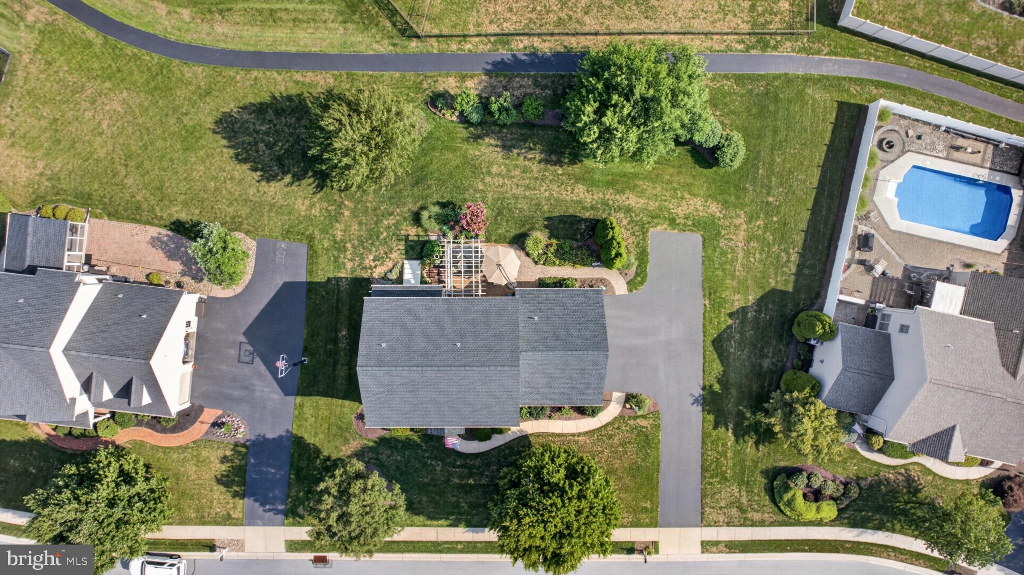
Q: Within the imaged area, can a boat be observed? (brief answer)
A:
No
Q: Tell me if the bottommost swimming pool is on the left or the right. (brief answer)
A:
right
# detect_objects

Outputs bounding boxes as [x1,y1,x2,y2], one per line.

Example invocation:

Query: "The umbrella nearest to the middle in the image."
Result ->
[480,245,521,290]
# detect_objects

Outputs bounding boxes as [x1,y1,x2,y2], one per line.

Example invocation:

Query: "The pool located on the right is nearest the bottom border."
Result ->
[886,164,1014,241]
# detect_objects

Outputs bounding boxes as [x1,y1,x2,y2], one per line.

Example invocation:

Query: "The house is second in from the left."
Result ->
[357,285,609,436]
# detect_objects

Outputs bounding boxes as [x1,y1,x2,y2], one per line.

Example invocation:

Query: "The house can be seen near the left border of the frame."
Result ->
[0,213,201,430]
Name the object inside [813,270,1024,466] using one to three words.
house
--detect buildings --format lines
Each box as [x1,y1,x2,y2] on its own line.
[0,213,201,430]
[357,285,609,436]
[813,270,1024,466]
